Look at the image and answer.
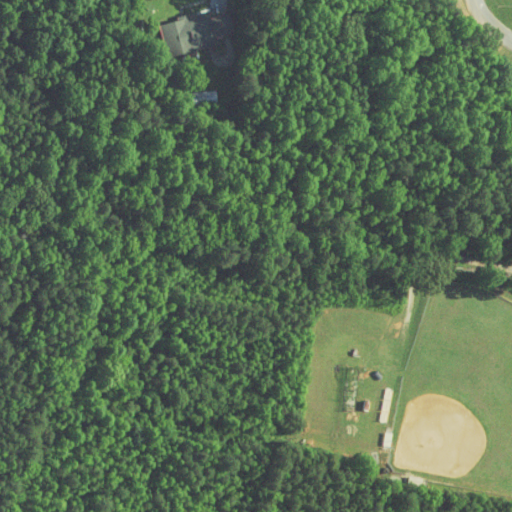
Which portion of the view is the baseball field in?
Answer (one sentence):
The baseball field sits in the bottom right section of the image.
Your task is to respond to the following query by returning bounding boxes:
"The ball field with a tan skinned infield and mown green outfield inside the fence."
[391,290,512,498]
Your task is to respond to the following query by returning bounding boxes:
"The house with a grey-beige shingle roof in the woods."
[160,14,200,58]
